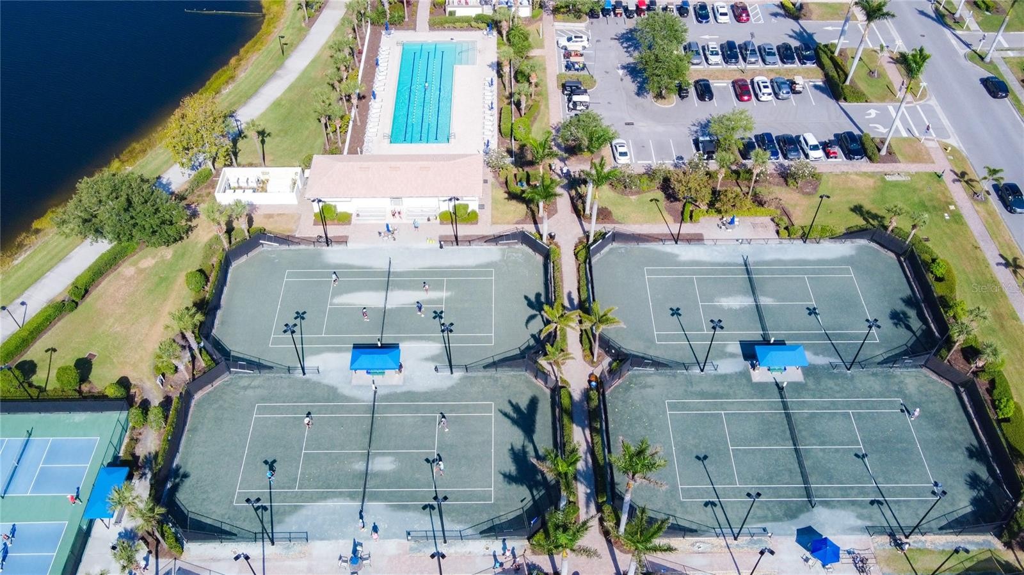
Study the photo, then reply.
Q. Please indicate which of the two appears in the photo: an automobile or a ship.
automobile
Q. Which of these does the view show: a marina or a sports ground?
sports ground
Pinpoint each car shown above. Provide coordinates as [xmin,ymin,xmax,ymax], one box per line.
[755,78,774,99]
[794,39,814,63]
[734,78,753,99]
[733,0,751,19]
[996,177,1024,208]
[776,42,794,62]
[612,137,629,161]
[737,129,758,157]
[695,2,711,21]
[773,76,792,97]
[801,130,824,158]
[686,39,704,63]
[982,74,1014,95]
[781,130,804,158]
[841,129,865,157]
[714,3,730,21]
[723,39,741,62]
[558,33,590,49]
[704,39,722,63]
[760,42,778,63]
[760,129,781,157]
[742,39,761,62]
[696,77,714,99]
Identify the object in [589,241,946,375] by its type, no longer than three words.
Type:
tennis court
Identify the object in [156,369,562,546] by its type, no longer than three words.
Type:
tennis court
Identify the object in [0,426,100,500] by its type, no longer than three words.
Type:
sports court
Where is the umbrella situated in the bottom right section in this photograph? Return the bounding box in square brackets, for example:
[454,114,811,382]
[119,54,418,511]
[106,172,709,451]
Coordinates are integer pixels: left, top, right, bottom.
[815,530,846,560]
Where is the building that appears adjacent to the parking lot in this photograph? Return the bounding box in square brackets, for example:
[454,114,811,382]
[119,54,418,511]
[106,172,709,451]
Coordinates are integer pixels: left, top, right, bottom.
[304,154,483,212]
